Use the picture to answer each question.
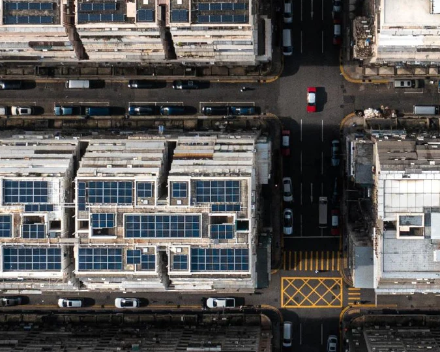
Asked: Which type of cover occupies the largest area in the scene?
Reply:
buildings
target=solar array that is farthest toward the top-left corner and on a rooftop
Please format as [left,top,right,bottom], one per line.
[9,3,58,21]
